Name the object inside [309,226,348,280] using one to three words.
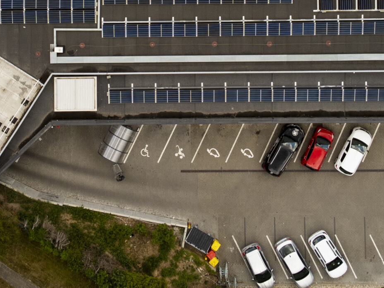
car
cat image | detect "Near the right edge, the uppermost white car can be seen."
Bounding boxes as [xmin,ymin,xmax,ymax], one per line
[333,126,372,177]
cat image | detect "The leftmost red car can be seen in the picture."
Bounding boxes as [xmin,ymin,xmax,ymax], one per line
[300,126,334,171]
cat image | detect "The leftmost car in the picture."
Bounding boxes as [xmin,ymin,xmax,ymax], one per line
[244,238,281,288]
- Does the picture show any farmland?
No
